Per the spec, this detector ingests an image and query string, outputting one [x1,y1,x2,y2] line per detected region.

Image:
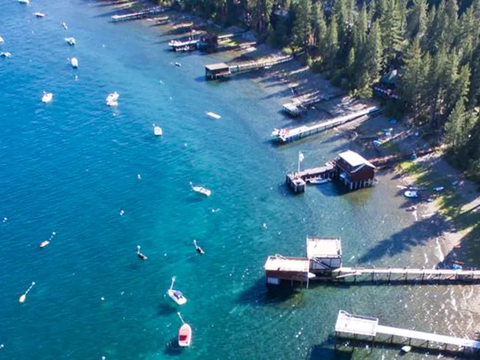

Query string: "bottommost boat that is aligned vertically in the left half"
[178,322,192,351]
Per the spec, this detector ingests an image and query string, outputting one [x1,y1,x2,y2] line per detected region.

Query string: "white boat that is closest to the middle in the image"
[192,185,213,197]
